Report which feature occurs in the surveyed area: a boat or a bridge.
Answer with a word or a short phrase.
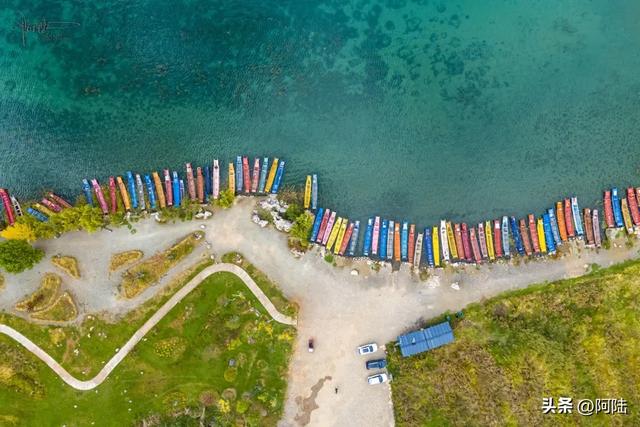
boat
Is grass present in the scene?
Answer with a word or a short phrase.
Yes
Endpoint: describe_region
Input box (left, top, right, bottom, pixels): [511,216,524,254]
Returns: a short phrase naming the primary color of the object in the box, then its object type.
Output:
blue boat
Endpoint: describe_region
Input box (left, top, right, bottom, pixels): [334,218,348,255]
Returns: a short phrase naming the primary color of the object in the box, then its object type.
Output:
yellow boat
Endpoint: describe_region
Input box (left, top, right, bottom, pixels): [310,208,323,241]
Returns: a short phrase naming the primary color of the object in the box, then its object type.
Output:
blue boat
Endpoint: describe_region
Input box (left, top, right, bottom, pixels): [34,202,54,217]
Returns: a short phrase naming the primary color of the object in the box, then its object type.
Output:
yellow boat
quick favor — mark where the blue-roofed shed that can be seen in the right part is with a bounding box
[398,322,453,354]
